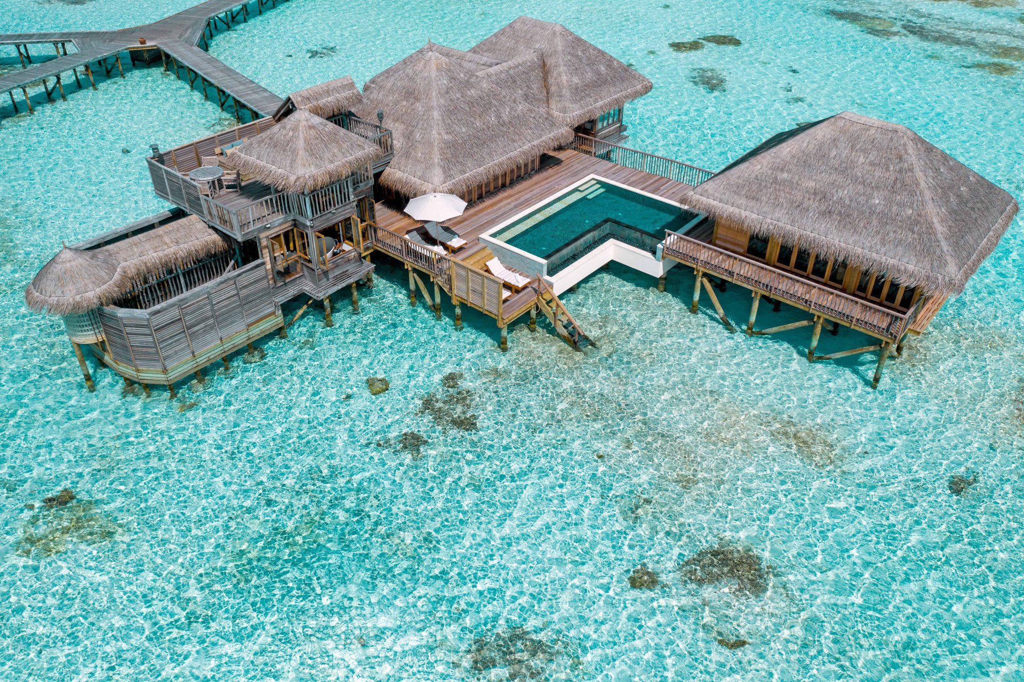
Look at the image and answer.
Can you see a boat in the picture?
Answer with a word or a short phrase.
No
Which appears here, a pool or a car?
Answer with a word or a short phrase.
pool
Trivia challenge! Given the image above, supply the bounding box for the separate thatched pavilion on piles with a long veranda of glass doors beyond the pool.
[668,111,1024,384]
